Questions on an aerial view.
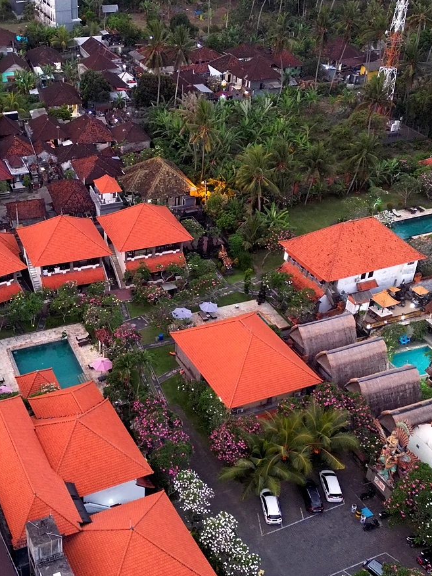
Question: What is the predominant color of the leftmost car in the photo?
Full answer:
From above, the leftmost car appears white.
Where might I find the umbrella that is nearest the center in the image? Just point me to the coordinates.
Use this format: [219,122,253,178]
[197,303,219,319]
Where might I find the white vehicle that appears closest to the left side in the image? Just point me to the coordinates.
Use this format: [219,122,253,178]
[257,491,285,527]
